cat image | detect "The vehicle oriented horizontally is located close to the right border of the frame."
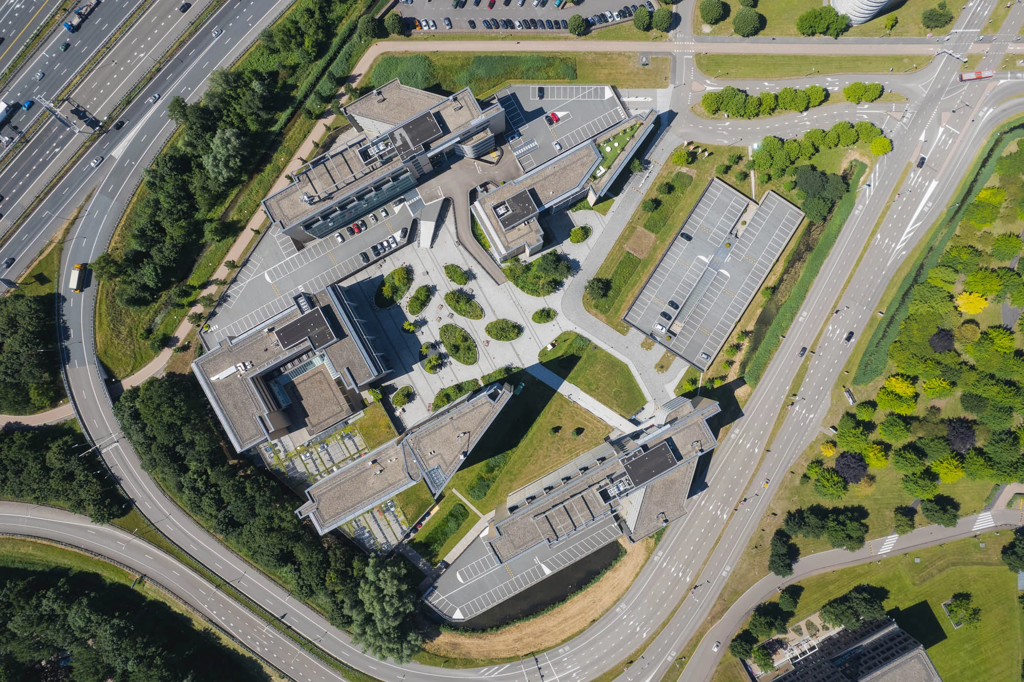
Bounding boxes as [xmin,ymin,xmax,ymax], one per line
[958,69,996,82]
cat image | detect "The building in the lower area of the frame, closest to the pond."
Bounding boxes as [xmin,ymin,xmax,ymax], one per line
[489,397,721,563]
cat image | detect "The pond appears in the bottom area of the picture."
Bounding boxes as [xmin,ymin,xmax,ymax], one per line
[434,539,627,633]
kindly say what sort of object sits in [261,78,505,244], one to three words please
building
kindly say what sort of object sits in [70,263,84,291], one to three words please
vehicle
